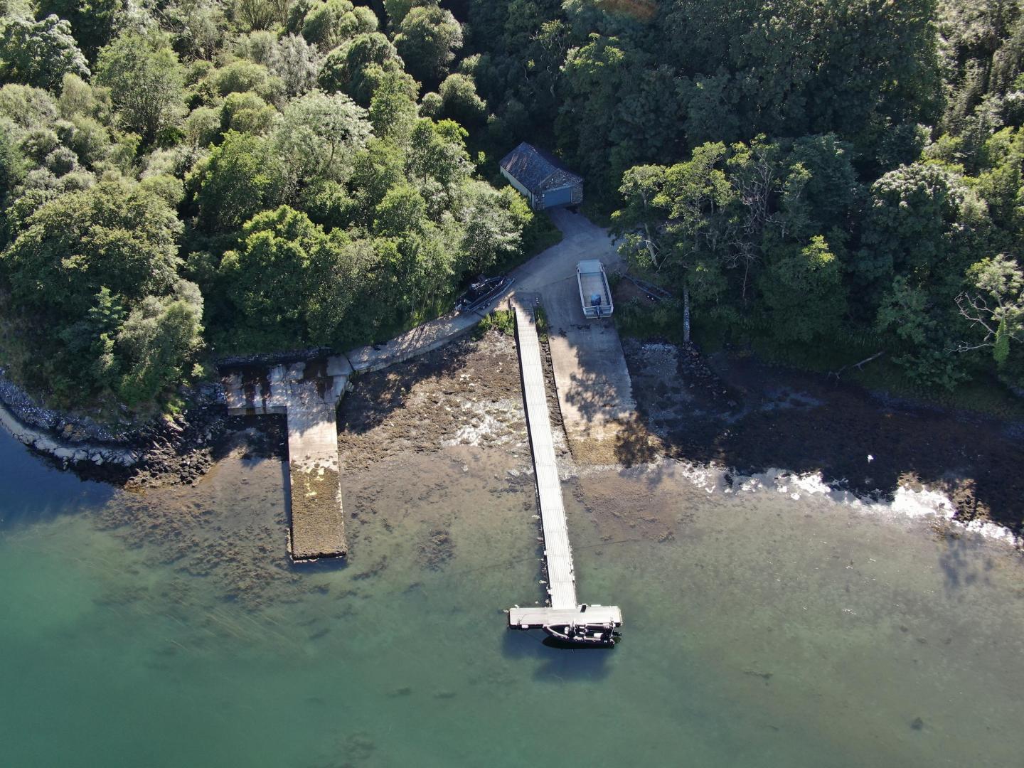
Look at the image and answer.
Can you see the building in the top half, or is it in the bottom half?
top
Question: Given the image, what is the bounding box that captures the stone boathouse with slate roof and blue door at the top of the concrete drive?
[500,135,582,212]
